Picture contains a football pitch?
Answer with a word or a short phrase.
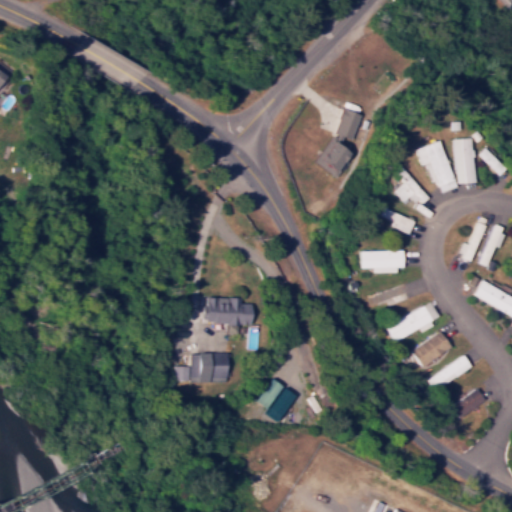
No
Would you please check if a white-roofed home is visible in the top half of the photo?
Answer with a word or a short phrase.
Yes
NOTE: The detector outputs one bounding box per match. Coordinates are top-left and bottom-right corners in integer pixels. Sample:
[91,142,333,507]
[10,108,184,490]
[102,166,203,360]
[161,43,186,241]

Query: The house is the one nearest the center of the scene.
[206,298,254,326]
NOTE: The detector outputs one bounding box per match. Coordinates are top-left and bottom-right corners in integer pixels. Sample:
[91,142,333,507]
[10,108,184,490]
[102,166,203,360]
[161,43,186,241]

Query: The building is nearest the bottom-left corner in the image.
[176,354,230,382]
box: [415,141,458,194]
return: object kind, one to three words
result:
house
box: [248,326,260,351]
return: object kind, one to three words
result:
swimming pool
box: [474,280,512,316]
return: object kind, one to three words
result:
house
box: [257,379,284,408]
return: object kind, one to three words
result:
shed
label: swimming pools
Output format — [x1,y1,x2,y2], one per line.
[2,96,16,112]
[248,326,260,351]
